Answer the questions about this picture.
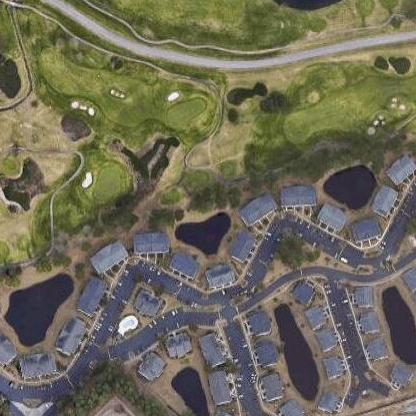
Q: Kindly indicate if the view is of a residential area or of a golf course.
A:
golf course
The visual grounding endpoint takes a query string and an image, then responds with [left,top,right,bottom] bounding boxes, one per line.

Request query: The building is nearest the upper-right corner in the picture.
[386,155,416,187]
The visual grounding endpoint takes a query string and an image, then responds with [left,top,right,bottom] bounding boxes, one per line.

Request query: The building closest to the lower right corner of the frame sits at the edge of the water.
[387,361,414,387]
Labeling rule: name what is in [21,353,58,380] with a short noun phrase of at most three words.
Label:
building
